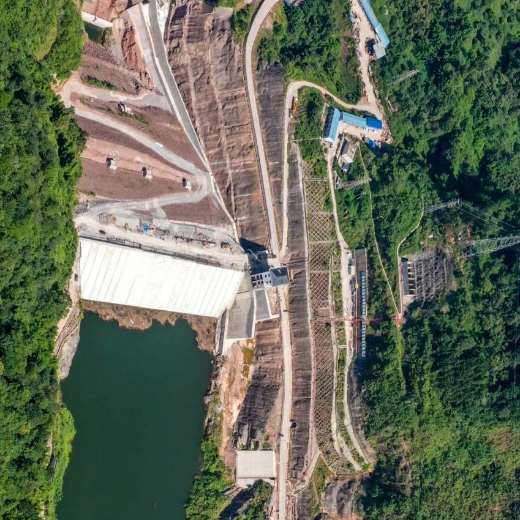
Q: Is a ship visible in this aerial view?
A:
No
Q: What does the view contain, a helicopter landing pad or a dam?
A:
dam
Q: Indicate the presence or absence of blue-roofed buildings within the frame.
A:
Yes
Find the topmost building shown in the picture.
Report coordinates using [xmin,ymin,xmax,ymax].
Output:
[356,0,379,28]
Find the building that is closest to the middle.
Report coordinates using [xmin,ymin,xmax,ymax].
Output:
[254,265,292,290]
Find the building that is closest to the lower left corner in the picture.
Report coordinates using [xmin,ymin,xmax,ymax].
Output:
[230,450,277,488]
